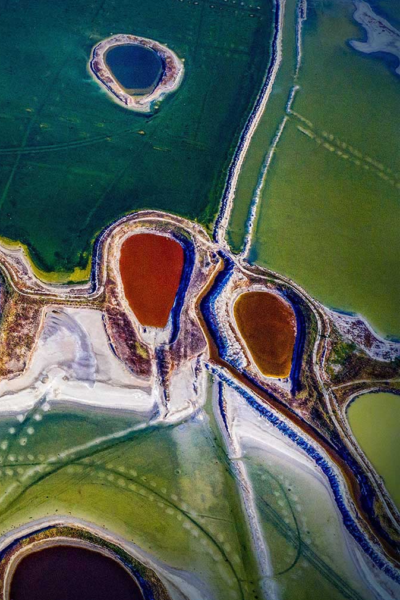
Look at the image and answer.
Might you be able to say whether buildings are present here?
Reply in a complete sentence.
No, no building can be seen from above.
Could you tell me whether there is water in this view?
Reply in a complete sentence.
Yes, there is water in the image.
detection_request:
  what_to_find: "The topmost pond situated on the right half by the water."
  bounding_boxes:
[231,283,311,396]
